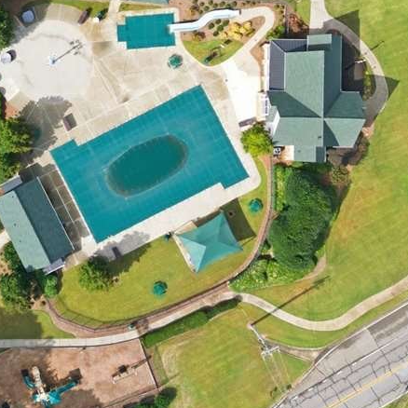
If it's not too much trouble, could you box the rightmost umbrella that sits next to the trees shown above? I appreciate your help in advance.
[248,197,262,212]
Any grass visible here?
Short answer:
Yes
